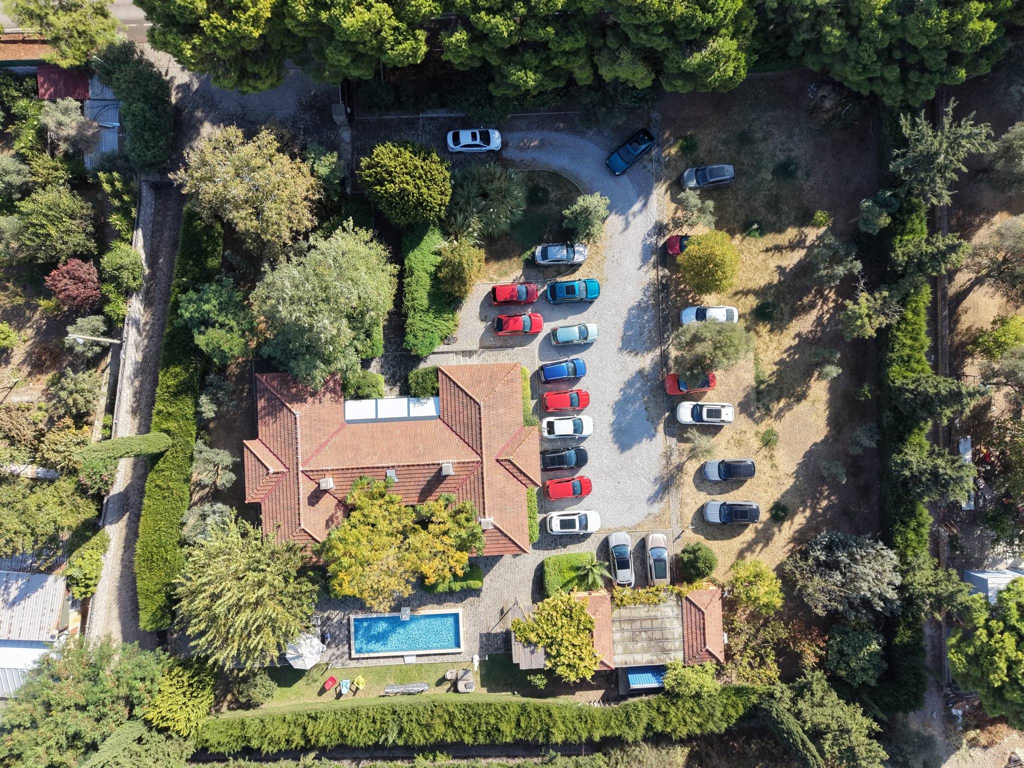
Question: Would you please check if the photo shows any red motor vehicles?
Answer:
Yes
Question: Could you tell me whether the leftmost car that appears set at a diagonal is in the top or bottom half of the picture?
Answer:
top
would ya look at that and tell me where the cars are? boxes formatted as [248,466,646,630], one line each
[700,457,756,485]
[491,281,538,307]
[539,357,586,383]
[541,414,594,440]
[644,530,670,585]
[605,129,655,179]
[550,320,598,346]
[680,302,737,328]
[494,311,543,337]
[535,241,587,267]
[608,529,636,586]
[547,277,600,304]
[545,475,592,501]
[666,233,695,259]
[540,444,591,471]
[447,128,501,155]
[701,500,759,528]
[675,400,734,428]
[542,387,590,413]
[547,509,600,536]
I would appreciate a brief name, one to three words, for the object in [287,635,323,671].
umbrella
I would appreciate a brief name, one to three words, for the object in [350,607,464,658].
swimming pool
